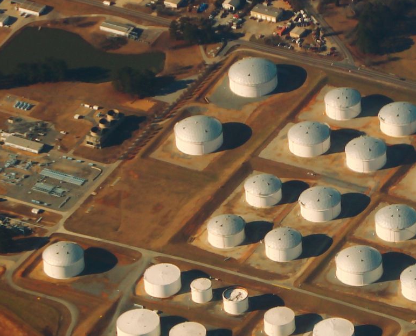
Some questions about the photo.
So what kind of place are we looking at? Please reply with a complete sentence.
The area seen from above is an industrial area.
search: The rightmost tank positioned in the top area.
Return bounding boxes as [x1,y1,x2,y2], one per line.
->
[377,101,416,137]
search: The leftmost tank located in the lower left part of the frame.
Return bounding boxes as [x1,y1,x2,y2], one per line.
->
[39,241,86,281]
